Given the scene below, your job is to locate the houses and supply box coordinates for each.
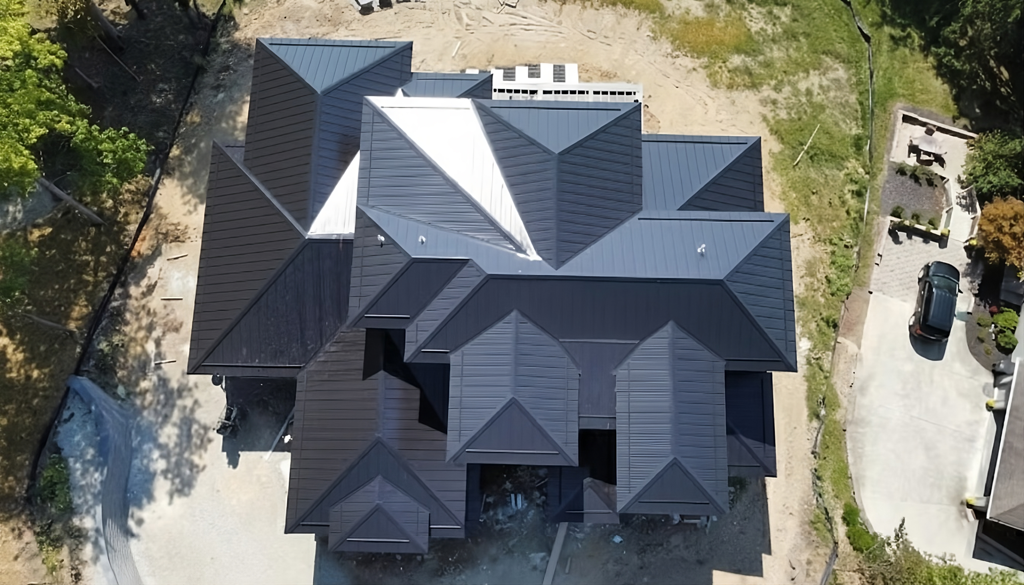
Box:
[973,262,1024,538]
[186,37,797,555]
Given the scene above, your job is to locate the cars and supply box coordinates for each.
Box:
[909,262,962,349]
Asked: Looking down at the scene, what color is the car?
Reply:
black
